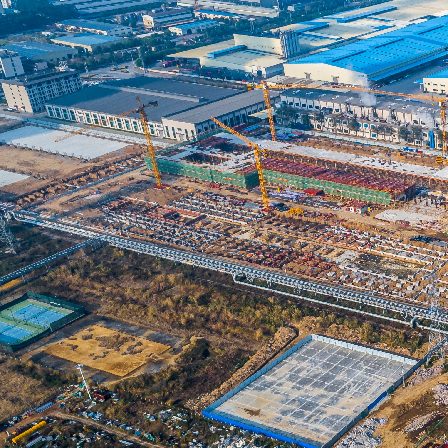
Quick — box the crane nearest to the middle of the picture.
[210,115,273,212]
